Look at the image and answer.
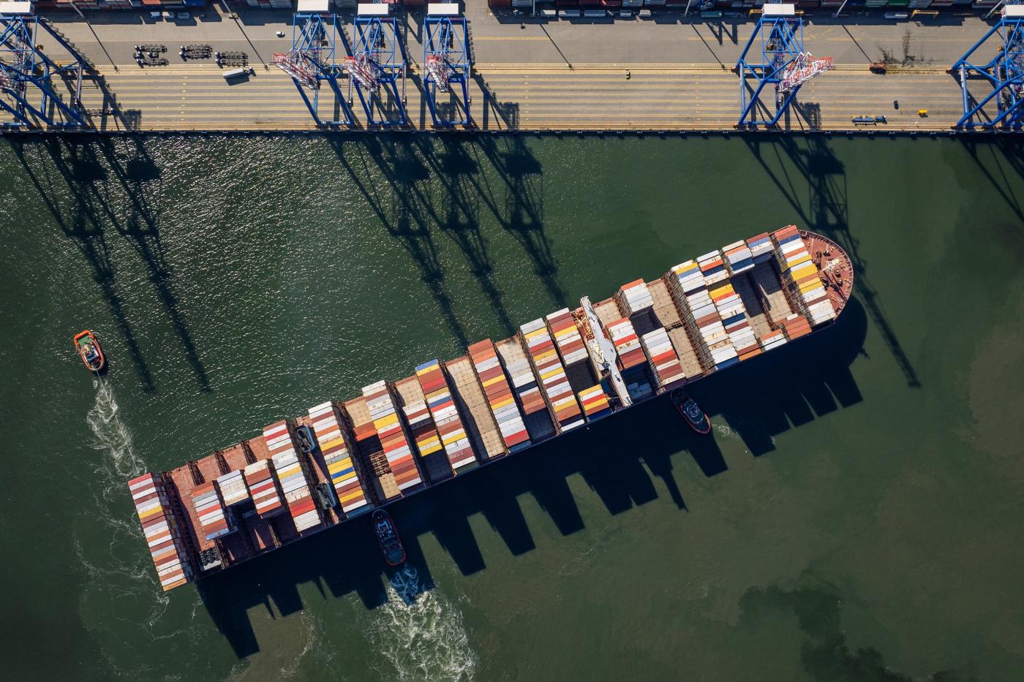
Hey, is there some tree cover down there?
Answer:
No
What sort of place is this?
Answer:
port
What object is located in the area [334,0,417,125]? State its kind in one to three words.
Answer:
container crane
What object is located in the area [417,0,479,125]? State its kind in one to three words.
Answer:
container crane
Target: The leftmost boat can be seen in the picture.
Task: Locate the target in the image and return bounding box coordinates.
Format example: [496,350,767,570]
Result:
[71,325,103,373]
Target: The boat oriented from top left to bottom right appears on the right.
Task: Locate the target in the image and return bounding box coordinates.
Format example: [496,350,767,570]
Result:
[667,385,711,435]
